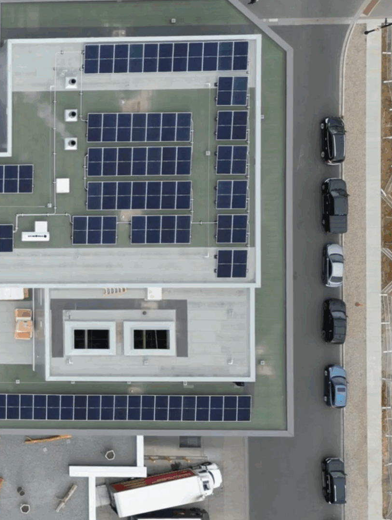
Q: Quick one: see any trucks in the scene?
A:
Yes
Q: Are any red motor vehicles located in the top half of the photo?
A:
No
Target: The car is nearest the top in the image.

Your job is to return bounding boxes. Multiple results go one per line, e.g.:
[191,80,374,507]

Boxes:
[320,117,348,164]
